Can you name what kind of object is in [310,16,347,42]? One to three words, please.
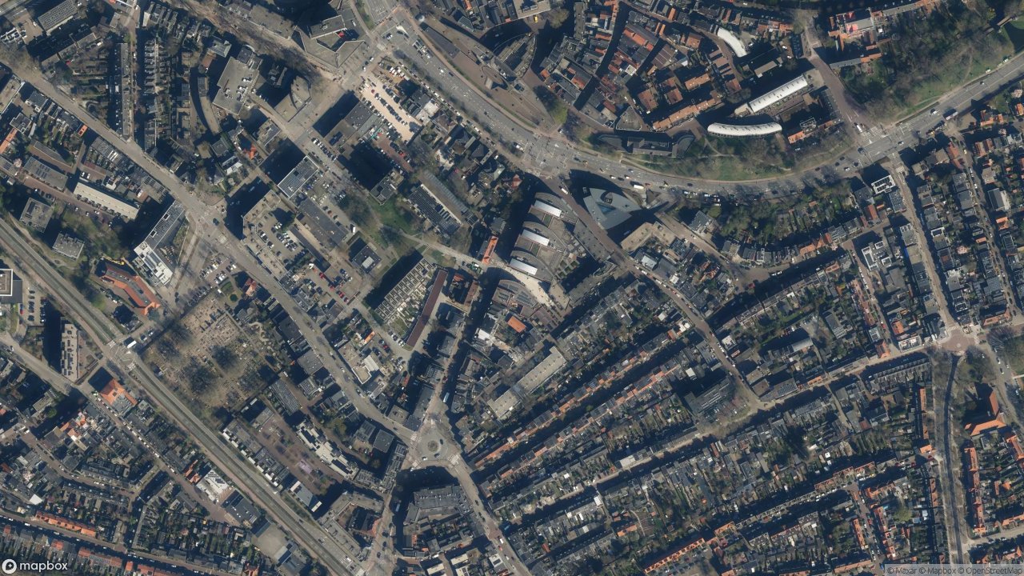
building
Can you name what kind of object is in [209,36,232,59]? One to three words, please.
house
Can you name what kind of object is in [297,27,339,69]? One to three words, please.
building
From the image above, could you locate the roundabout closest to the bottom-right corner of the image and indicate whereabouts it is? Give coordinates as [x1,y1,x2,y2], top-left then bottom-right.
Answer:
[939,322,978,361]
